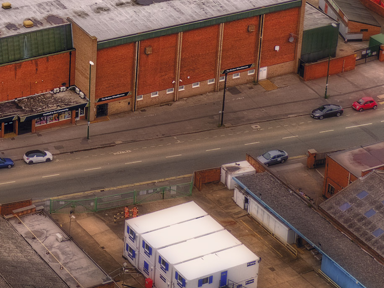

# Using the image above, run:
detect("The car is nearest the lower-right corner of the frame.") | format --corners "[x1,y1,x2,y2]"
[265,151,290,165]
